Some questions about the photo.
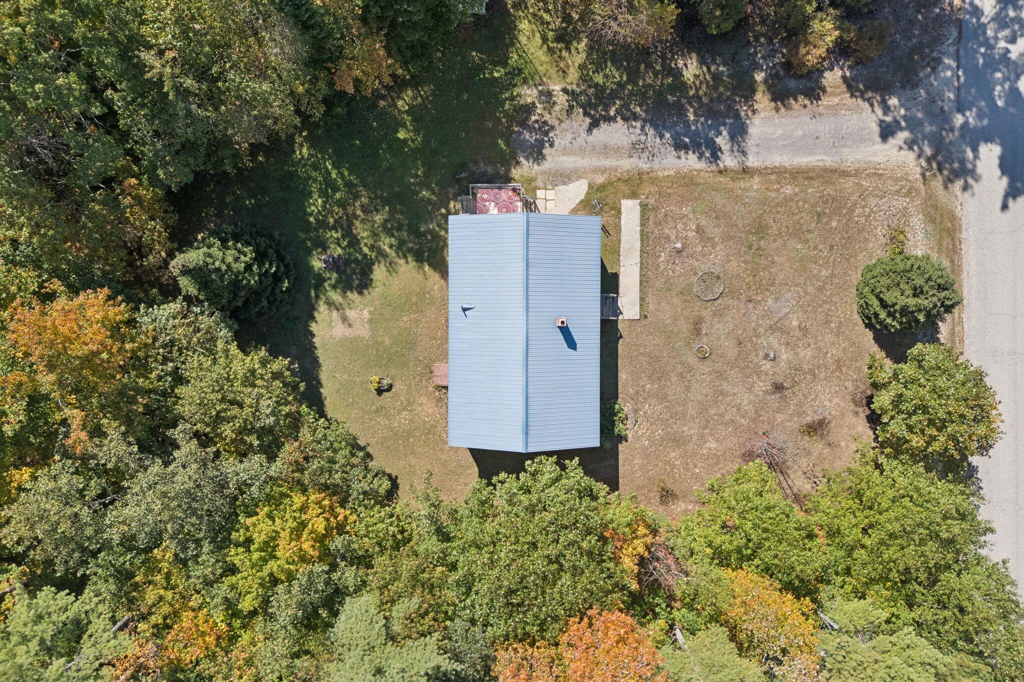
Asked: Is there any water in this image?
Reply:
No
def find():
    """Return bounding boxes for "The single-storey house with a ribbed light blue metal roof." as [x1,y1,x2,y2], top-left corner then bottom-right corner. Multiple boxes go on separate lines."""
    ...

[448,212,601,453]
